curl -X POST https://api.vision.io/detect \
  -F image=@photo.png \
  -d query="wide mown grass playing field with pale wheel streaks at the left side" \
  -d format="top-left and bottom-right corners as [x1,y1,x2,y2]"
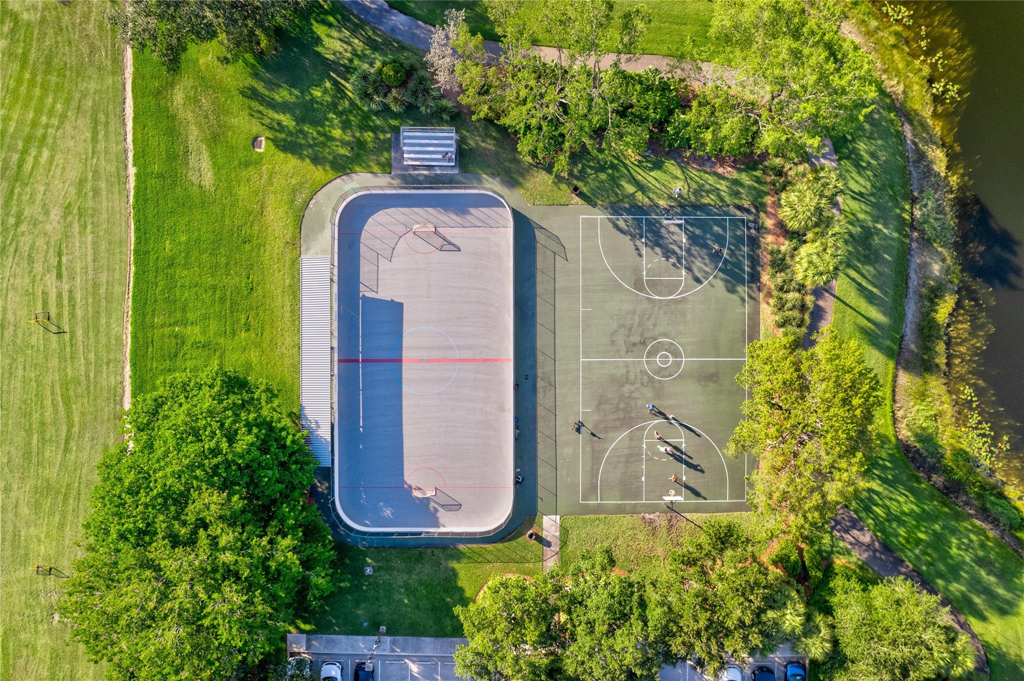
[0,0,128,681]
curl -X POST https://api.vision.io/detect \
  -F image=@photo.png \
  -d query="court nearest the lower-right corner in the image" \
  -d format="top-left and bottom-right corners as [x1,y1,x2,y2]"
[557,205,760,515]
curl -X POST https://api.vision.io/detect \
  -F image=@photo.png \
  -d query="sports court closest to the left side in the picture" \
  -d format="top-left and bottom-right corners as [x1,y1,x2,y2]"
[333,188,513,533]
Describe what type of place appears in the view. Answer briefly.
sports ground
